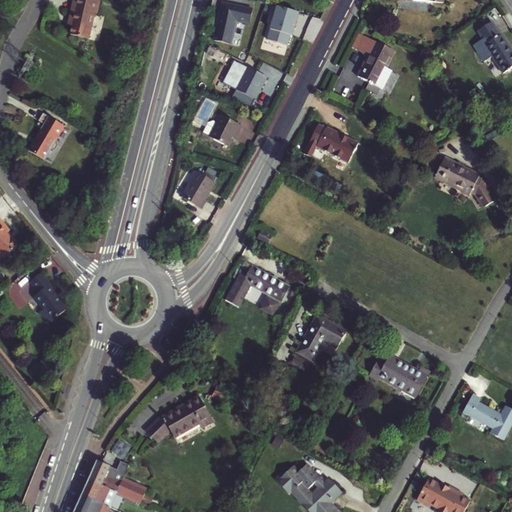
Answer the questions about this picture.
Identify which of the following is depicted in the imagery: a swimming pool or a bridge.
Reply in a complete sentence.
I can see a swimming pool in this picture.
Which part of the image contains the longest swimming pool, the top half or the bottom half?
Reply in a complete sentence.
The top half of the photo is where the longest swimming pool is.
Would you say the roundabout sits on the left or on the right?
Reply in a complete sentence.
You can find the roundabout on the left side of the picture.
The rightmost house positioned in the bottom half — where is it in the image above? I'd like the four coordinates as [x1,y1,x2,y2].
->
[462,394,512,442]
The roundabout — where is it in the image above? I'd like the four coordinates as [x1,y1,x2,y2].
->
[82,257,178,352]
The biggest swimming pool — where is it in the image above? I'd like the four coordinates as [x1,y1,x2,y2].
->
[192,98,218,128]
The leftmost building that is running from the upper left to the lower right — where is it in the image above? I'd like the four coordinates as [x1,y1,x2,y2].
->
[18,276,63,322]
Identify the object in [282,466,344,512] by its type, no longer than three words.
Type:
house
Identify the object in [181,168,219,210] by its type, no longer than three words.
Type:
house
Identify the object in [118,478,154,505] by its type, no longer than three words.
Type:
barn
